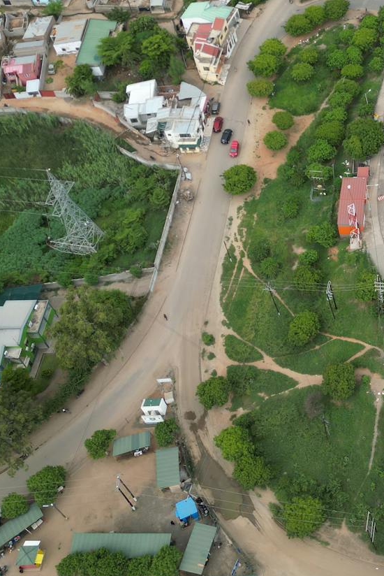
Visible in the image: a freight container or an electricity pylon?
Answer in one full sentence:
This aerial view contains an electricity pylon.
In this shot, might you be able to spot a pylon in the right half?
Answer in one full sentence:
No, I see no pylon in the right half.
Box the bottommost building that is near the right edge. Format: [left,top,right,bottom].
[338,177,370,233]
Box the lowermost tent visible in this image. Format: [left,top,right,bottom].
[175,497,201,523]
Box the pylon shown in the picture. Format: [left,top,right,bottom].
[39,166,104,257]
